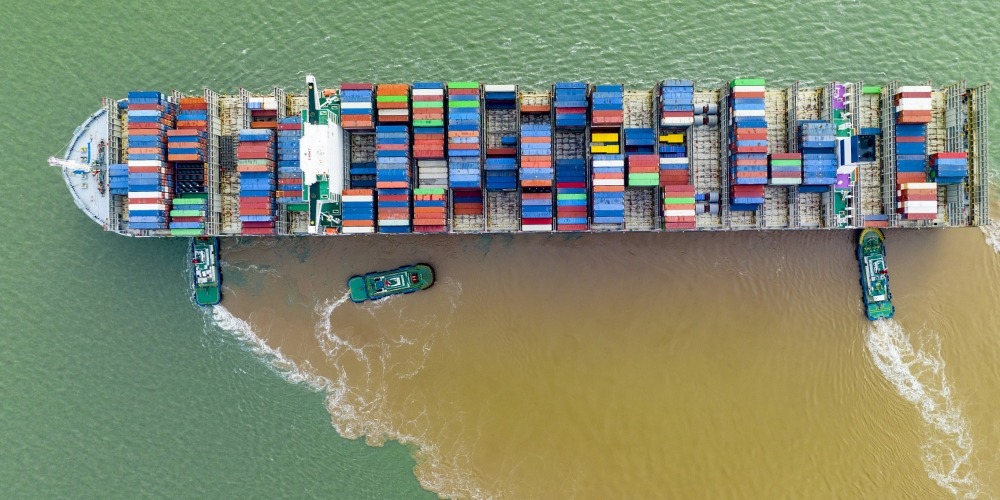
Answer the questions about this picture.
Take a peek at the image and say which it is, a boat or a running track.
boat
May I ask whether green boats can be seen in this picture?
Yes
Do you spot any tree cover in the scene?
No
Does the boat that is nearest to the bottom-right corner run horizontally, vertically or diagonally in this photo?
vertically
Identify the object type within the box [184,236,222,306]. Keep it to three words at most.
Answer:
boat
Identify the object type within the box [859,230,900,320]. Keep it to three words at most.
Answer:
boat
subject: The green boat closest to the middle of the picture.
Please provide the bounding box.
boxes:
[347,263,436,304]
